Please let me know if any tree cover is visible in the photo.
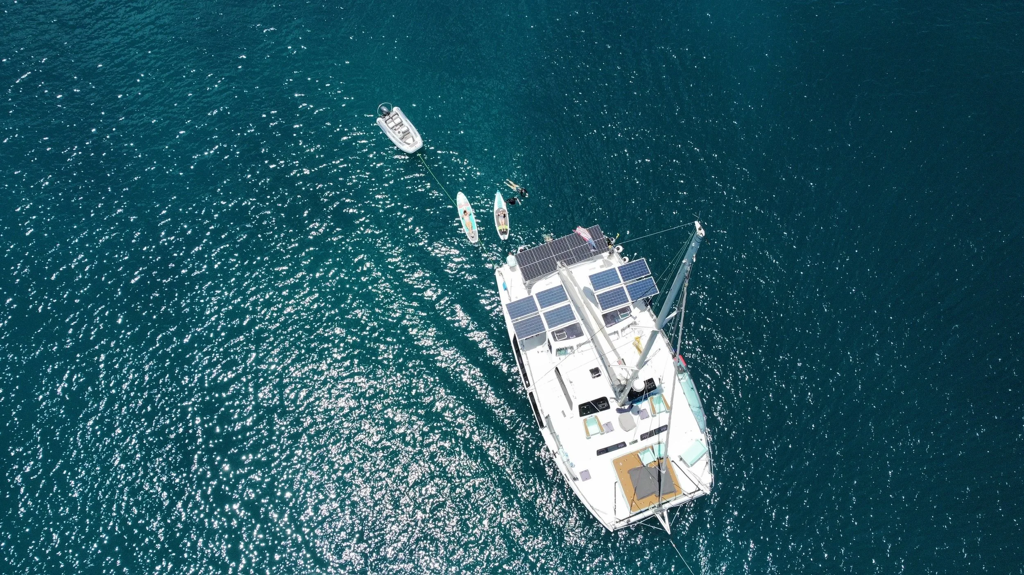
No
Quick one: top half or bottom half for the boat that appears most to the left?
top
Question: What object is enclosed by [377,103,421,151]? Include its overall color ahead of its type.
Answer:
white boat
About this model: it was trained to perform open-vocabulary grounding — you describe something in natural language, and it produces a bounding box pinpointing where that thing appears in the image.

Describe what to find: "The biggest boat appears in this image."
[497,204,714,536]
